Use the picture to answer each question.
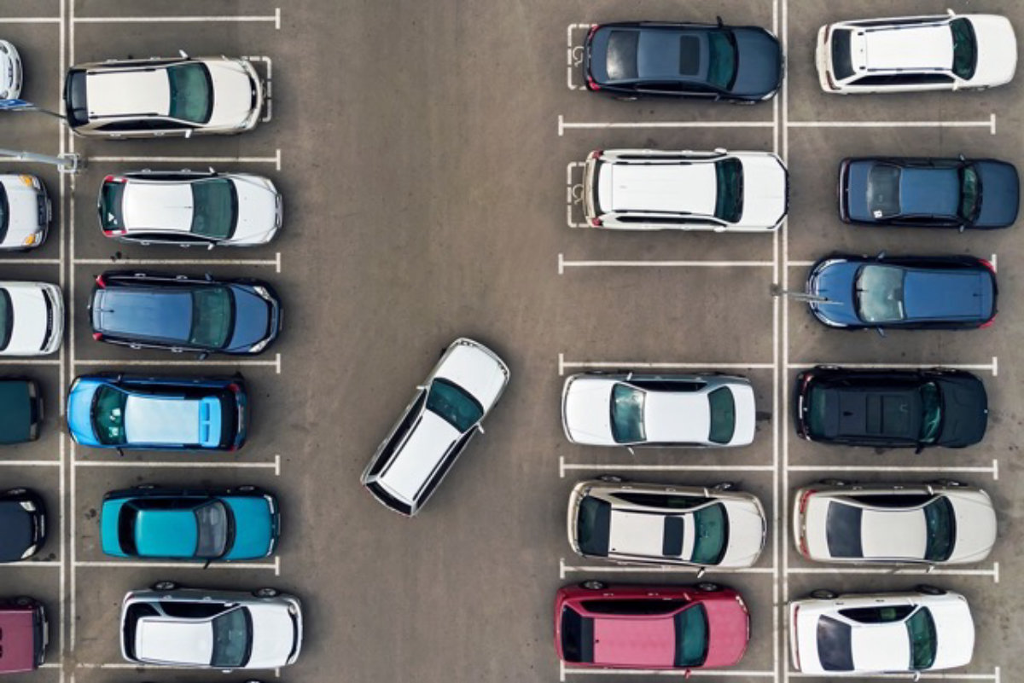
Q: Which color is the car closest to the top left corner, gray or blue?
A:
gray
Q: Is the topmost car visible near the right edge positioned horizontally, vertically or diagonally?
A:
horizontally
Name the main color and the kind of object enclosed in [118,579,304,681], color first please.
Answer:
white car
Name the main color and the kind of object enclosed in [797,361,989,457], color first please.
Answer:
black car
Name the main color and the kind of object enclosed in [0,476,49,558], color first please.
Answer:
black car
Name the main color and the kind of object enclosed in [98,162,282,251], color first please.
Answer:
white car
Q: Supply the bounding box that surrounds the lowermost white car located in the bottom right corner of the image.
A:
[790,589,975,683]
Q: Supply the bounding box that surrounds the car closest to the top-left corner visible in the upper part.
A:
[0,34,26,99]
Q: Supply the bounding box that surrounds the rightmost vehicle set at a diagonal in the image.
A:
[359,337,510,520]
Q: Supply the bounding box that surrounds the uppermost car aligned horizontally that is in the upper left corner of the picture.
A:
[72,47,266,139]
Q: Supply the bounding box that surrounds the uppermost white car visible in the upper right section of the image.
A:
[814,4,1018,94]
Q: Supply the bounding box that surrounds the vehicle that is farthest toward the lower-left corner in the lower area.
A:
[0,583,47,667]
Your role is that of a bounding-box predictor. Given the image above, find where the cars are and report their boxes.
[585,141,789,238]
[814,4,1018,94]
[793,479,997,575]
[0,369,44,442]
[563,367,757,455]
[98,482,280,570]
[66,371,248,458]
[838,148,1020,235]
[557,579,751,679]
[0,175,52,250]
[0,583,47,667]
[585,12,784,104]
[0,476,49,558]
[790,589,975,683]
[98,162,282,251]
[359,337,510,520]
[569,476,766,578]
[72,47,266,139]
[118,579,304,681]
[0,278,66,355]
[0,34,26,99]
[797,361,989,457]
